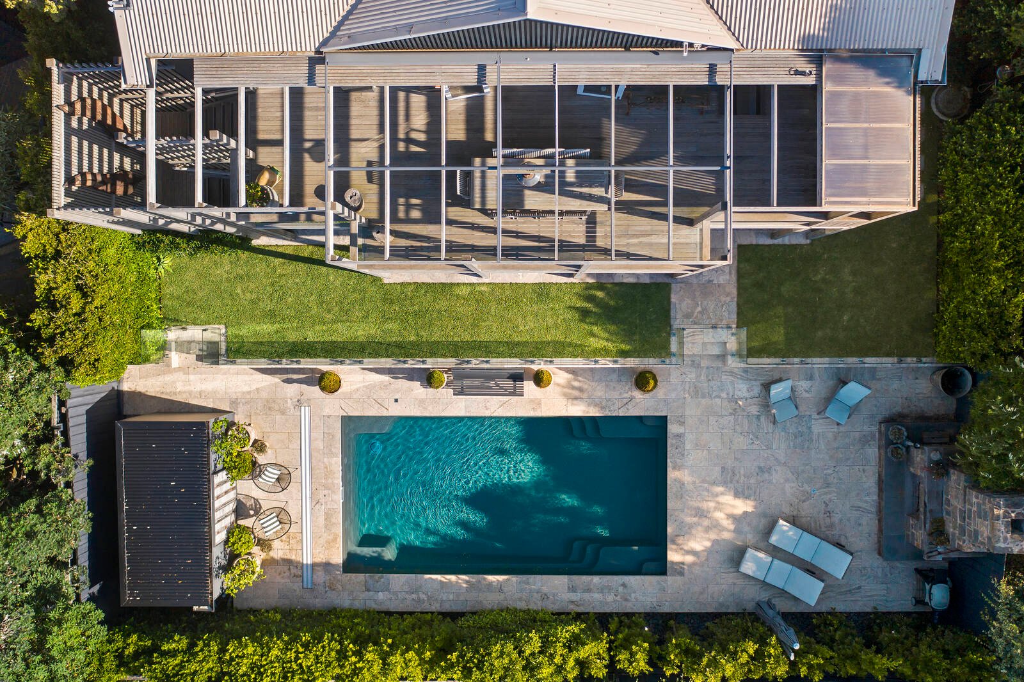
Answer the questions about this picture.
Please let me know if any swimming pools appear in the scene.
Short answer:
Yes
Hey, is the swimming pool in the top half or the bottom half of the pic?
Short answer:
bottom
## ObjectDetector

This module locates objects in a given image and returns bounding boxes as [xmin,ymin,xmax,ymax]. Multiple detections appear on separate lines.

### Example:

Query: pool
[339,417,667,574]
